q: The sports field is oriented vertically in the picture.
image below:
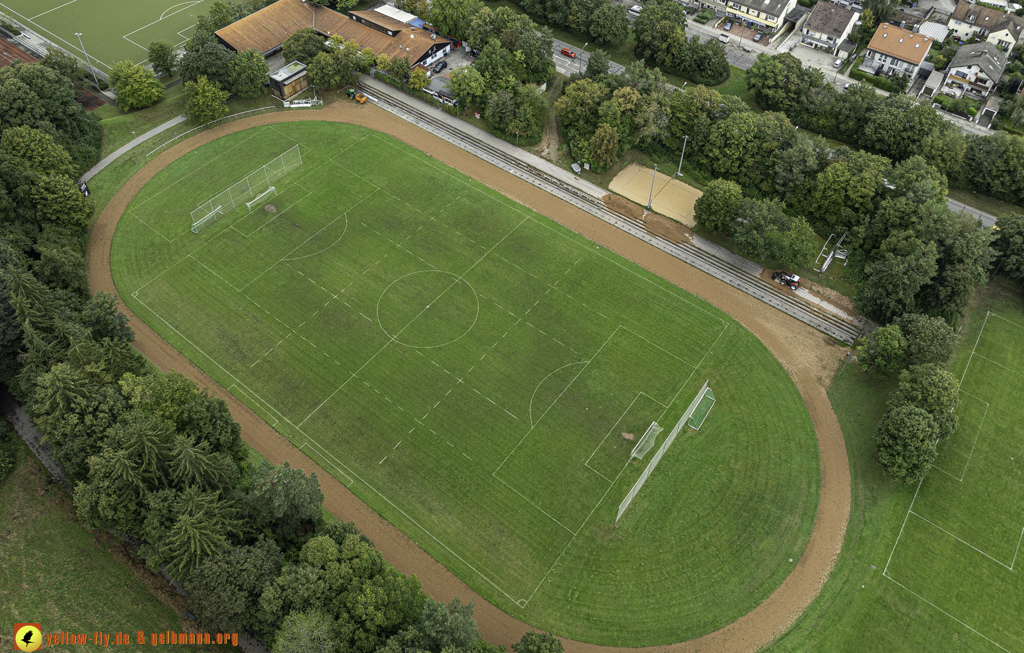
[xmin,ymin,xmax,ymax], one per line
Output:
[883,314,1024,653]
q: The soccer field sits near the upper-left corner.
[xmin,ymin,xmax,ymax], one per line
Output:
[0,0,282,79]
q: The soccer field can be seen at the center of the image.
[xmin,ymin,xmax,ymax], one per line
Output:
[116,122,819,644]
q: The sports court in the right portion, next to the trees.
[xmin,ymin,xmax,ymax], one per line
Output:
[609,162,707,227]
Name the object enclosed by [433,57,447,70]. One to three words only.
vehicle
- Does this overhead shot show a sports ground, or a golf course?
sports ground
